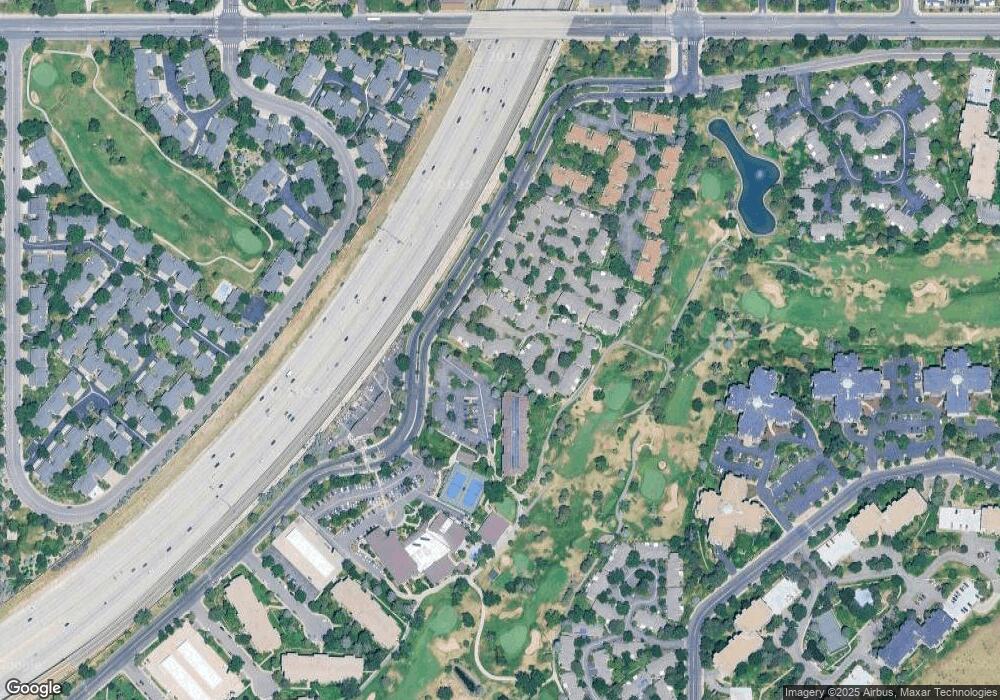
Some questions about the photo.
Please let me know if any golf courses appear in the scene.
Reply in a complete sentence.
Yes, the image includes a golf course.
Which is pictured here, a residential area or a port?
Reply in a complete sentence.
This looks like a residential area.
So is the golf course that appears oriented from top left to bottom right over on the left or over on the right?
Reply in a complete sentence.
It is on the left.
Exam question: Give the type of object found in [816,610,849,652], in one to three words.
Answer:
sports court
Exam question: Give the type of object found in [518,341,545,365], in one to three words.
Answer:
house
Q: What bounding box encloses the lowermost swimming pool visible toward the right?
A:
[855,588,873,606]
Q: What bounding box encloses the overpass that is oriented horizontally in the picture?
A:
[465,12,575,41]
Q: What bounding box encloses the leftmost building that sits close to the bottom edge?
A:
[143,622,245,700]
